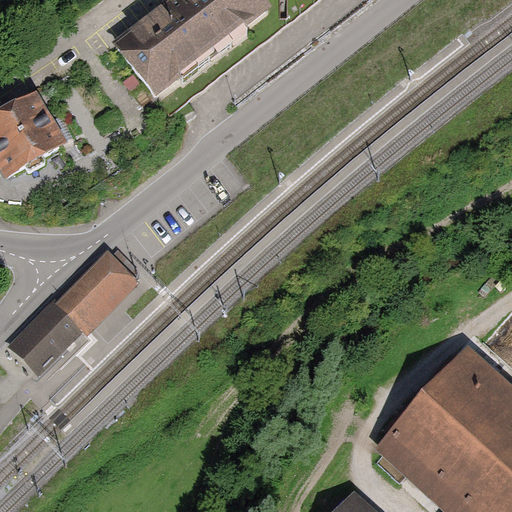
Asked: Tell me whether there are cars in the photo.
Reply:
Yes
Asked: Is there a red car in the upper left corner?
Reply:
No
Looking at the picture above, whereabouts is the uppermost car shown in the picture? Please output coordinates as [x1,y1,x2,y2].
[56,48,78,66]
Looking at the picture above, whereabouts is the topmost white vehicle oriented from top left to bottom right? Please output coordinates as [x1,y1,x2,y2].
[204,176,231,202]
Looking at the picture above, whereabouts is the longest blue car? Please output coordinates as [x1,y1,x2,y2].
[163,210,181,233]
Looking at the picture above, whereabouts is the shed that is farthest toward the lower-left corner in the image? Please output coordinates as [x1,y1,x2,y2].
[8,303,92,381]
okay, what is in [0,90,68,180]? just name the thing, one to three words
house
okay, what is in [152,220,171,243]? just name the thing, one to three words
car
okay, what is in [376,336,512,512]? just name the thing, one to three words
barn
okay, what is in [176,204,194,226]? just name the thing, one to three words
car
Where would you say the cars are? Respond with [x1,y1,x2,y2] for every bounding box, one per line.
[163,210,181,233]
[56,48,78,66]
[176,204,194,226]
[152,220,171,243]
